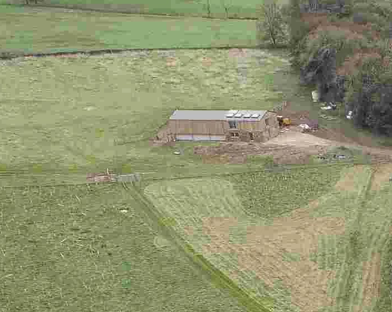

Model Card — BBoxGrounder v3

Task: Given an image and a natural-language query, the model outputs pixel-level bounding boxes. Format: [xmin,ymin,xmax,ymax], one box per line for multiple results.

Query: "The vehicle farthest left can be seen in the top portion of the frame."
[272,114,293,127]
